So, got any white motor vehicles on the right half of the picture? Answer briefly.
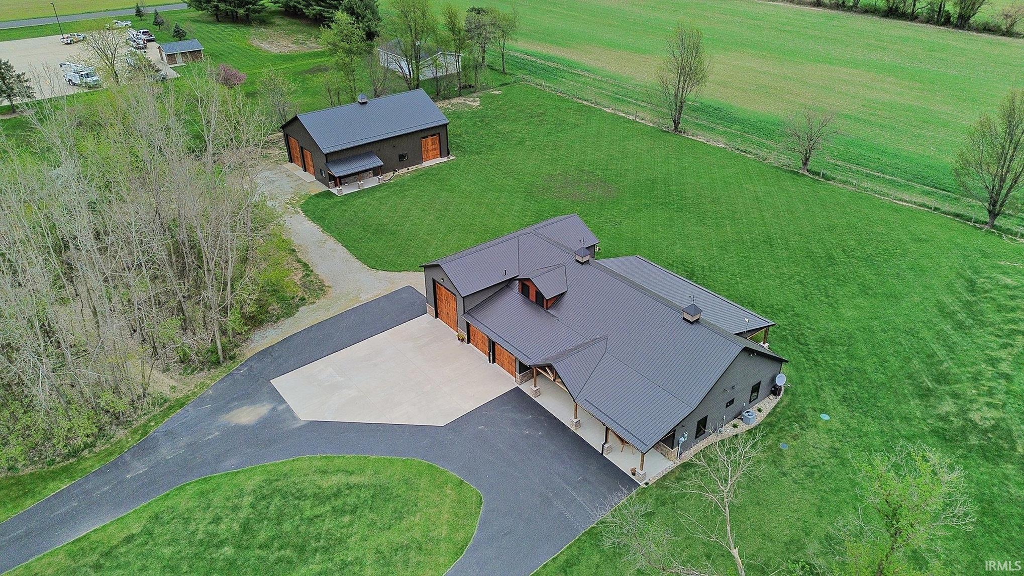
No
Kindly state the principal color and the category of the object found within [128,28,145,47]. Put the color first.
white vehicle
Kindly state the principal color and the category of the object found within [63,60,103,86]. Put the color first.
white truck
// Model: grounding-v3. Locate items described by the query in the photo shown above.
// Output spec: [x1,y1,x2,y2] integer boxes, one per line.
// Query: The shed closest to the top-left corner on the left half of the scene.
[158,40,204,64]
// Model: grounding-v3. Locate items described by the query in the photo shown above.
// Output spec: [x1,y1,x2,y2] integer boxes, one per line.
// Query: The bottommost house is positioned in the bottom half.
[419,214,789,484]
